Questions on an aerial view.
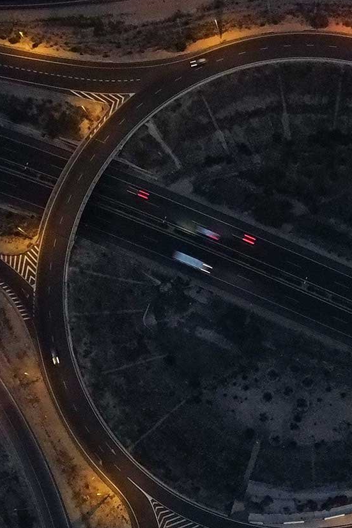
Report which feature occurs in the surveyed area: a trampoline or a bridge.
bridge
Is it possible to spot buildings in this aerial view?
No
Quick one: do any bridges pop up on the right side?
No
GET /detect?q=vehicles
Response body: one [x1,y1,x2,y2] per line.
[50,348,57,363]
[174,250,211,272]
[199,226,221,239]
[237,232,251,242]
[131,188,145,196]
[192,60,205,66]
